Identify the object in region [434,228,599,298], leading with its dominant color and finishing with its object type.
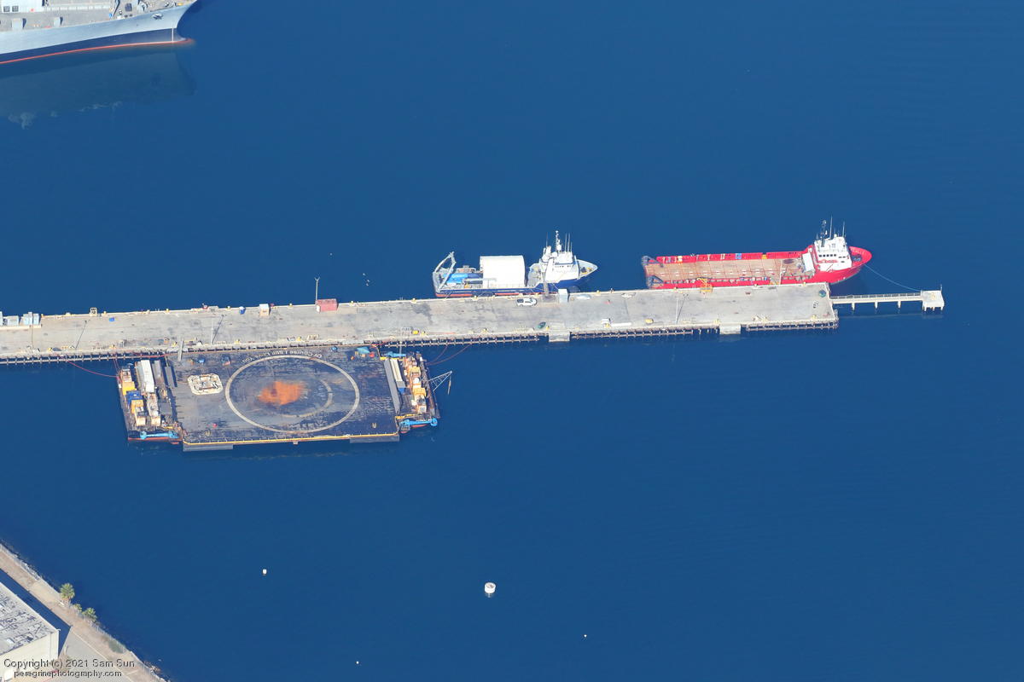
white ship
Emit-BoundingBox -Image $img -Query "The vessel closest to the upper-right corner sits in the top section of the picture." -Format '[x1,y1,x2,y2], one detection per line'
[643,217,873,290]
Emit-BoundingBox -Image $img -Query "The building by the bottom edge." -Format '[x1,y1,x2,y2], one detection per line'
[0,580,60,681]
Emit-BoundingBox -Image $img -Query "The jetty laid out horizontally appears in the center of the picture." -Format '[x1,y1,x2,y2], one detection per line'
[0,283,841,367]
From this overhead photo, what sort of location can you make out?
port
